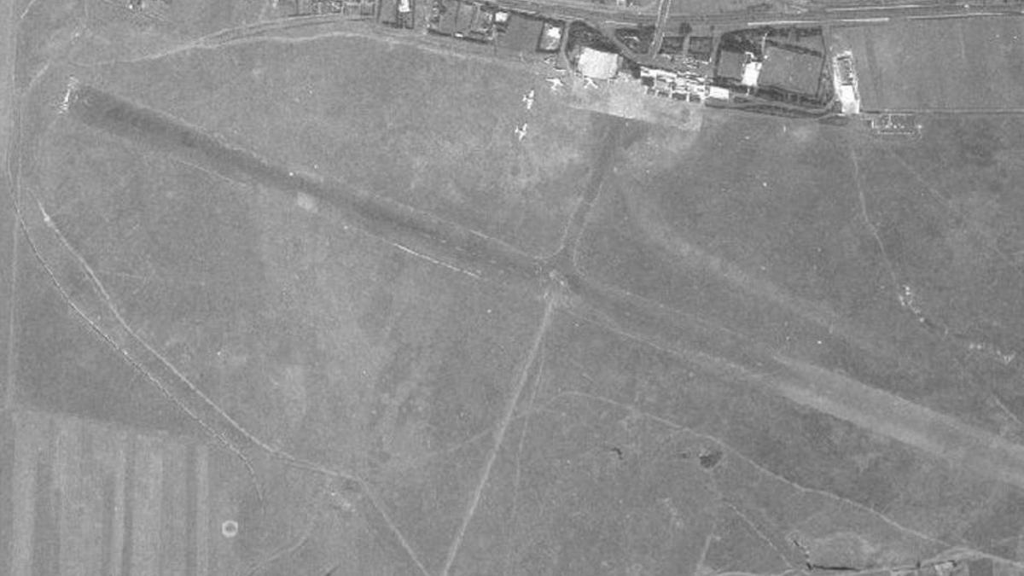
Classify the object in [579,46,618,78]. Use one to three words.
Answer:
hangar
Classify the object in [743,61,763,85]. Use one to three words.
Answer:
house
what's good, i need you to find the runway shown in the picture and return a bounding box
[66,72,1024,495]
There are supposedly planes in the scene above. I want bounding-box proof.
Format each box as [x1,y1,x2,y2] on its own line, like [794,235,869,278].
[585,78,596,89]
[521,90,533,108]
[547,78,564,90]
[515,123,526,140]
